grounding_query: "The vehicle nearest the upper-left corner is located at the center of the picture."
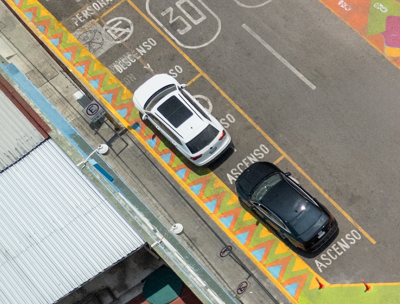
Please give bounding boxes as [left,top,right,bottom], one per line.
[136,75,239,177]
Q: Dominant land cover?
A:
paved ground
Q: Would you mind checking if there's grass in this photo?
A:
No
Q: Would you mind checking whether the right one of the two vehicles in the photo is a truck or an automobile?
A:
automobile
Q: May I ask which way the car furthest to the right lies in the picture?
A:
diagonally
